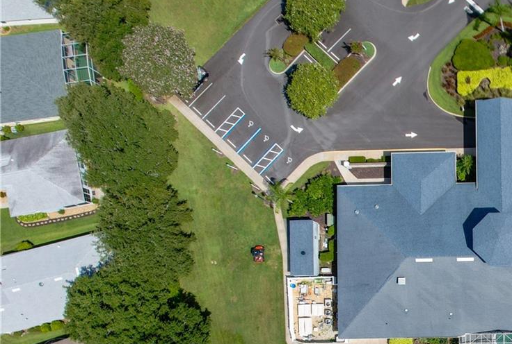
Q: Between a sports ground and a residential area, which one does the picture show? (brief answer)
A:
residential area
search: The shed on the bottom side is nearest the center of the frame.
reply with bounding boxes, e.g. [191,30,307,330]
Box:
[289,219,322,276]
